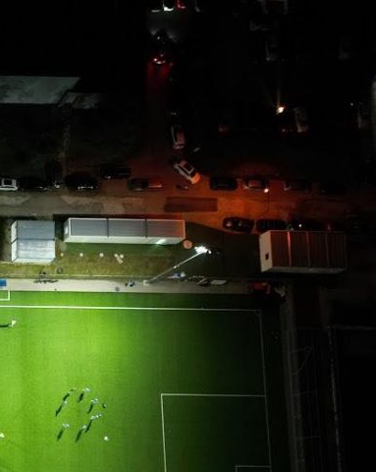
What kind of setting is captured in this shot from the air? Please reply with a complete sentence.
It's a sports ground.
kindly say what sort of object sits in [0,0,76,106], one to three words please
building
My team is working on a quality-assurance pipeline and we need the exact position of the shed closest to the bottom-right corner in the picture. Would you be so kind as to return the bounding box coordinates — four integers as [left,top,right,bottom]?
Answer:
[259,226,354,274]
